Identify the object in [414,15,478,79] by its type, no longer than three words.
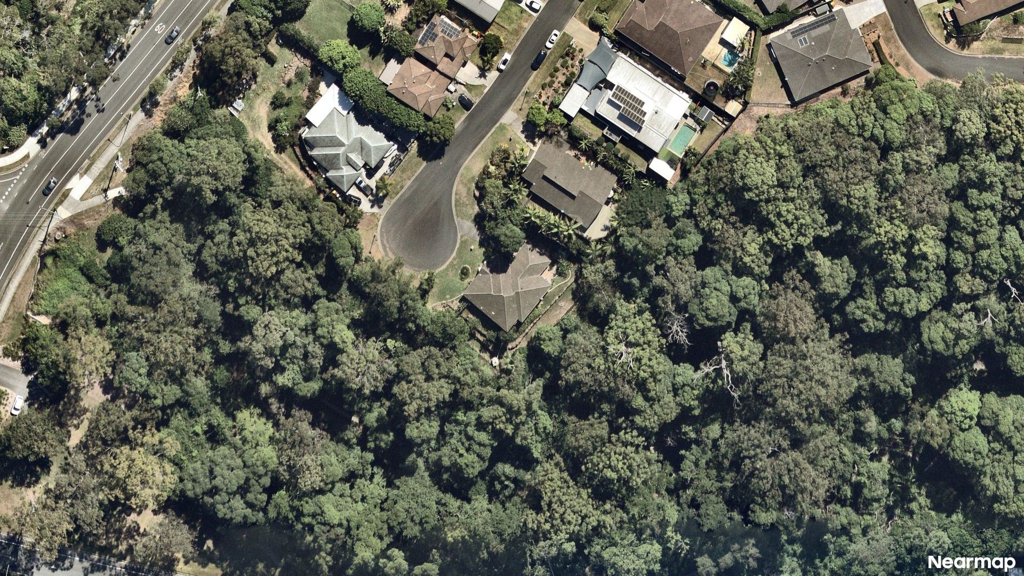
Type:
house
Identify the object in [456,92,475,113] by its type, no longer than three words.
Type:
car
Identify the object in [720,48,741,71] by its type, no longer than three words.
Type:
swimming pool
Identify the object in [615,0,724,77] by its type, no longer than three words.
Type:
house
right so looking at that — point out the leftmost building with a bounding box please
[304,85,394,193]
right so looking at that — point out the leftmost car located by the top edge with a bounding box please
[163,25,182,45]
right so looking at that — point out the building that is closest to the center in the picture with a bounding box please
[463,242,552,332]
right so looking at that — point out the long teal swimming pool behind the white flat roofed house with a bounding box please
[667,121,698,156]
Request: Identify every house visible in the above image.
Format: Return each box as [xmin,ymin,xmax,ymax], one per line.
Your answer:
[456,0,506,24]
[304,85,394,193]
[559,54,692,153]
[521,138,618,230]
[769,8,872,102]
[463,242,552,332]
[952,0,1024,27]
[615,0,724,77]
[379,58,452,118]
[414,15,478,79]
